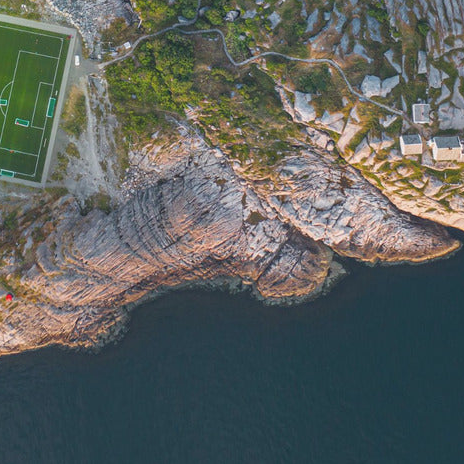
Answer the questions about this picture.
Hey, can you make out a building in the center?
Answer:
No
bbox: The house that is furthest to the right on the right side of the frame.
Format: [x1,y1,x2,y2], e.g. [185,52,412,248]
[428,137,464,160]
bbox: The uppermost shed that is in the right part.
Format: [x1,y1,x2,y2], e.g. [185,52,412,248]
[410,104,430,123]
